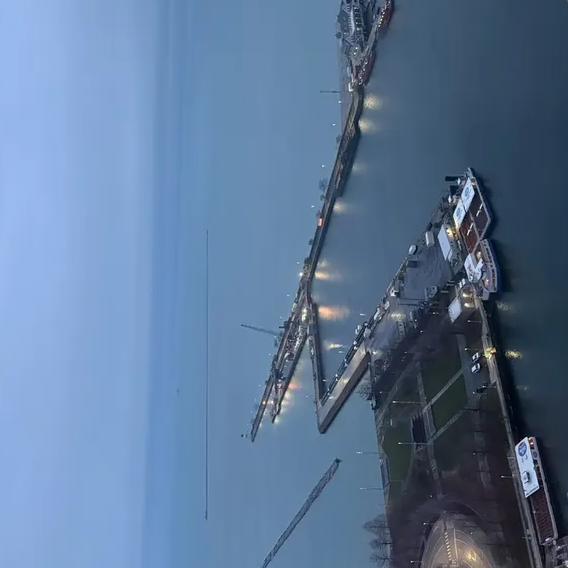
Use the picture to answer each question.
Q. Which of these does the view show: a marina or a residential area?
marina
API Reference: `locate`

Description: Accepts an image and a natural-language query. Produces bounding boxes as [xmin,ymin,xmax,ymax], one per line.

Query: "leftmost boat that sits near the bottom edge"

[517,437,564,544]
